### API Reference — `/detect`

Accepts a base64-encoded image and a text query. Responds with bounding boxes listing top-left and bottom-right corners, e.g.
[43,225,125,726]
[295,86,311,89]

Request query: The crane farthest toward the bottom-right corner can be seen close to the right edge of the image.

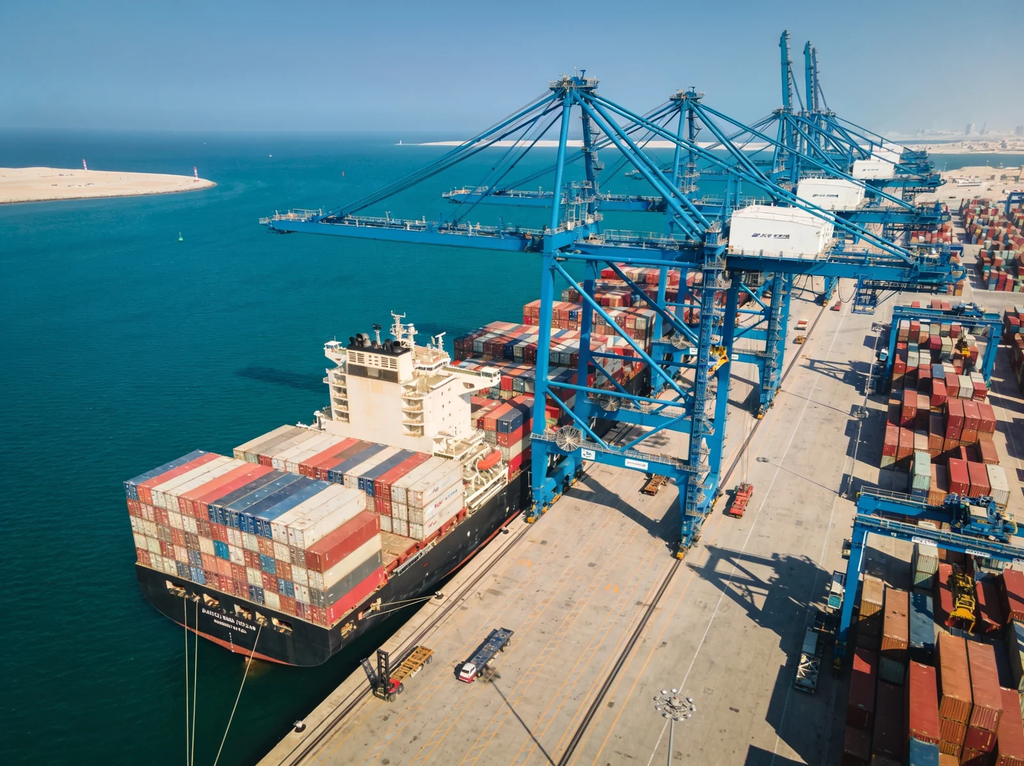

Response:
[828,476,1024,676]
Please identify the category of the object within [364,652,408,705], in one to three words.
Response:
work vehicle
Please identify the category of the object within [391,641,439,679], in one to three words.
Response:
trailer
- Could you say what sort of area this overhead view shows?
port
